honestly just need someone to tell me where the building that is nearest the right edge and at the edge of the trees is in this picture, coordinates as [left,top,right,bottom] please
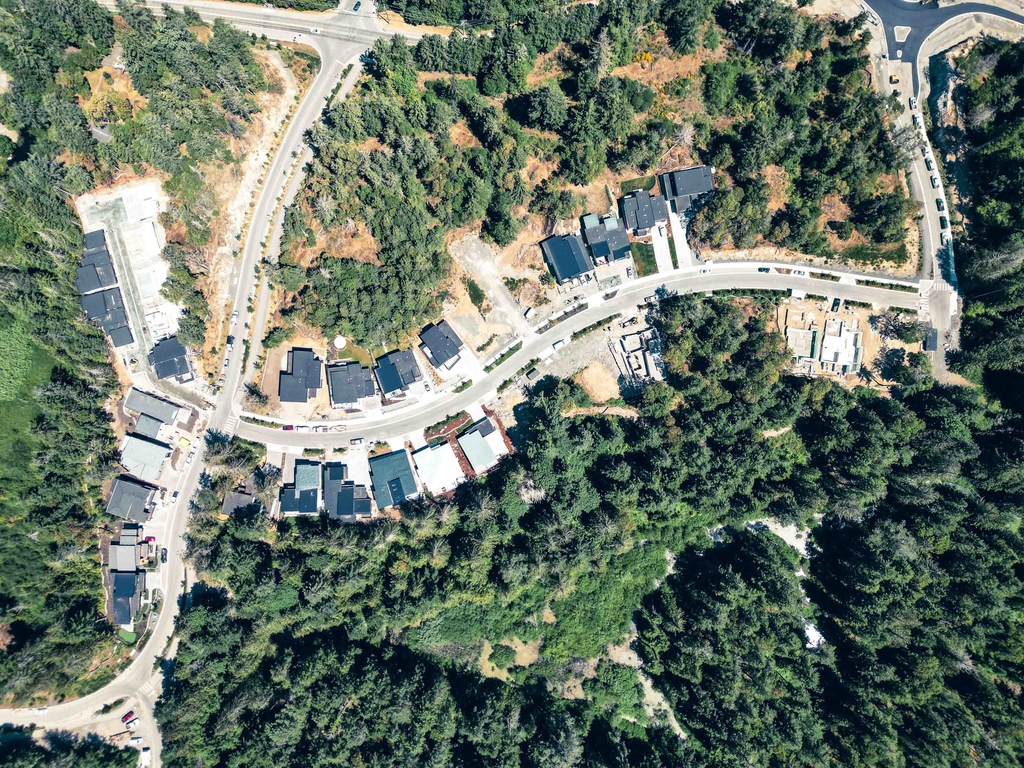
[920,328,937,351]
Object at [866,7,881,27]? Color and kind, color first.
white vehicle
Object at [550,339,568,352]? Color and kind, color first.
white vehicle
